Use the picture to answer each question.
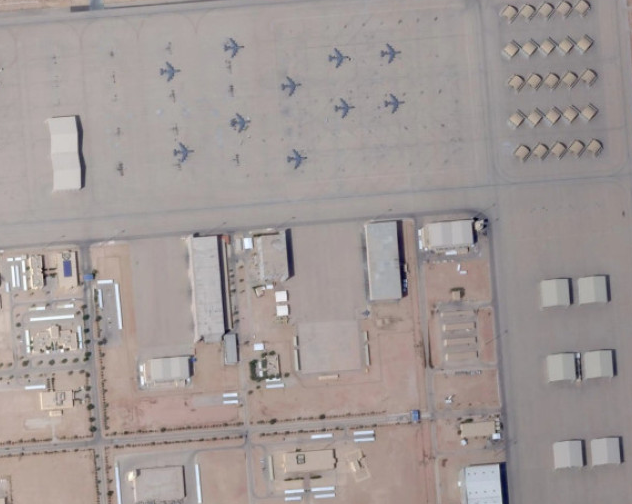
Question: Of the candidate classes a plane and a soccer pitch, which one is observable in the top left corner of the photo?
plane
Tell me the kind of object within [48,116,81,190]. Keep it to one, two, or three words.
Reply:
hangar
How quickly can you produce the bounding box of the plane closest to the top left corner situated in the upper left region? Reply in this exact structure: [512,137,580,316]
[159,62,180,81]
